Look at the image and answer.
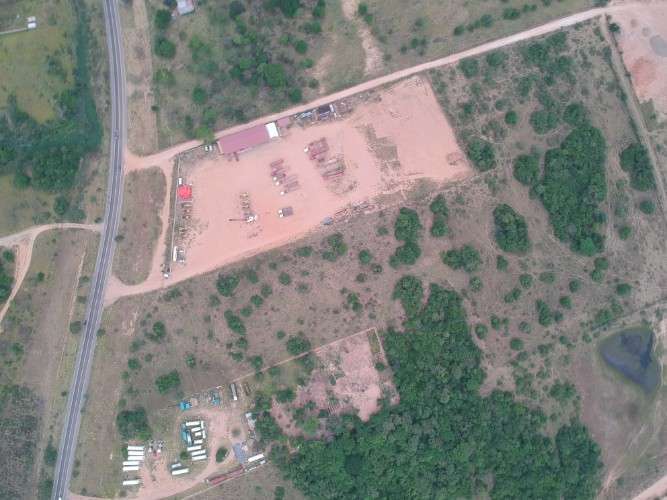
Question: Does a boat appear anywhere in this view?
No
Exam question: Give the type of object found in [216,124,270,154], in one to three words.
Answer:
building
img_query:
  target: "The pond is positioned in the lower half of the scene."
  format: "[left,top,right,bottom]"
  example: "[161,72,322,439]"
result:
[600,329,660,392]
